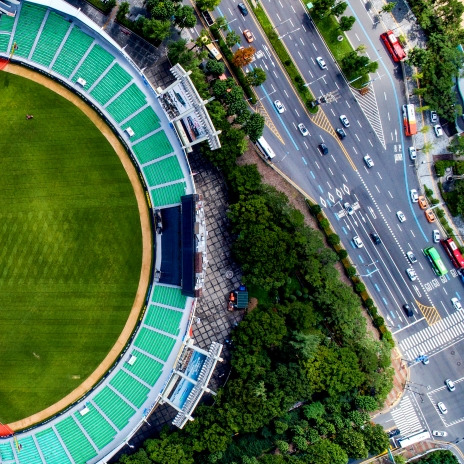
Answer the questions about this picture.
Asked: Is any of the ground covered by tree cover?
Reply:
Yes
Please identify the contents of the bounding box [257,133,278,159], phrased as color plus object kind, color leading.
white bus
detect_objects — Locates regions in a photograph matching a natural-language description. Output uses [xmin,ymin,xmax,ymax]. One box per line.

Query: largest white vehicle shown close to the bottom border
[398,431,435,449]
